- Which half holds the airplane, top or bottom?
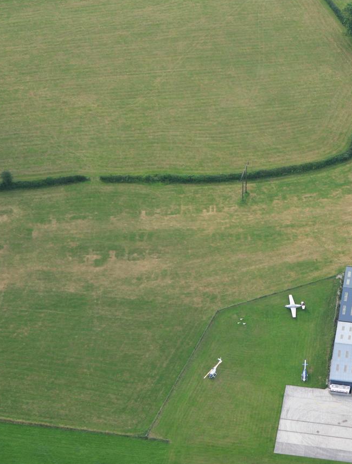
bottom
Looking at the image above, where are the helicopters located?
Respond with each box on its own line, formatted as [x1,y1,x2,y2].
[208,358,222,380]
[301,359,308,382]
